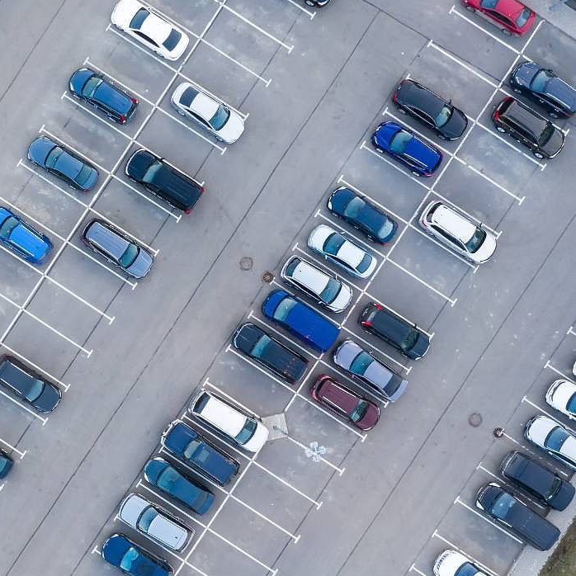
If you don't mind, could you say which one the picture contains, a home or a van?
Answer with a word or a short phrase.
van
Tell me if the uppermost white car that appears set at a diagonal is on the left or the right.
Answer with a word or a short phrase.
left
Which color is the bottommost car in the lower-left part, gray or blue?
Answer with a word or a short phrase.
blue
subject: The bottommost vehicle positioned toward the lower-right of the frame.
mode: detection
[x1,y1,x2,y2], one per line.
[428,545,495,576]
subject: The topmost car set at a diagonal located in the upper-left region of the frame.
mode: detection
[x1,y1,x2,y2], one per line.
[112,0,189,62]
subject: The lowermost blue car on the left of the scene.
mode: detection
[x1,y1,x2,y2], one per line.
[102,529,174,576]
